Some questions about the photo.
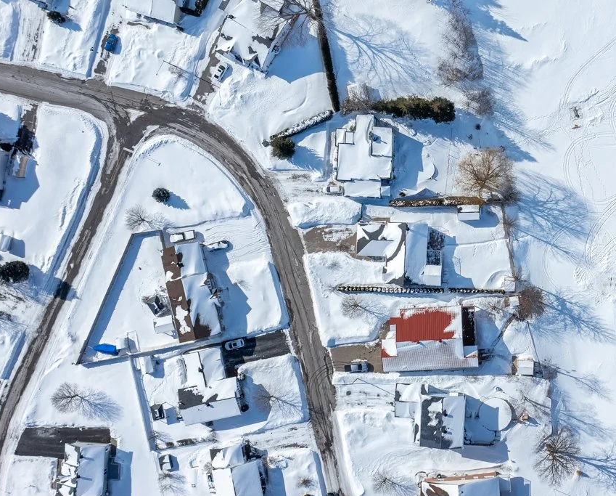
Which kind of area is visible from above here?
residential area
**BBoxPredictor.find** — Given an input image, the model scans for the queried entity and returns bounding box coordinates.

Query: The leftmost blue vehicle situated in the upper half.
[103,33,116,52]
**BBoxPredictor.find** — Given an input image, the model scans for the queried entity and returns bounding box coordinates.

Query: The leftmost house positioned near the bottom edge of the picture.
[53,437,124,496]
